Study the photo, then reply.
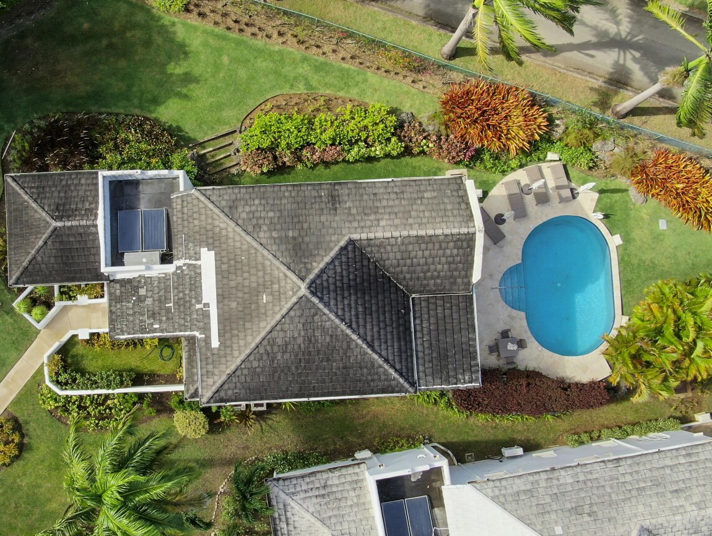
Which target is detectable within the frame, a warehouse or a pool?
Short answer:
pool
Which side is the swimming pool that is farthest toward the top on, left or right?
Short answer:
right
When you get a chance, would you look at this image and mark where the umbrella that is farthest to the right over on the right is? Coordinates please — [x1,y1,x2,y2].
[569,186,597,199]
